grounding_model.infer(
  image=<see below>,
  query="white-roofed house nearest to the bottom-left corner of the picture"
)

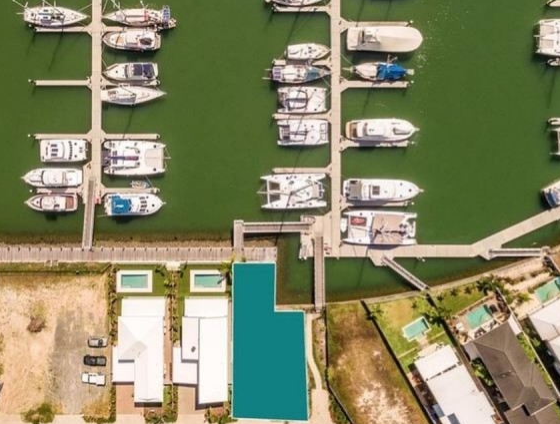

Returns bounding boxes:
[112,297,166,404]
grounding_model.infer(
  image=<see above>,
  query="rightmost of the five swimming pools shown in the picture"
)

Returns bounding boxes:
[534,277,560,302]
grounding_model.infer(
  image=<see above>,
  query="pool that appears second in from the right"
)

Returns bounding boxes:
[463,302,495,331]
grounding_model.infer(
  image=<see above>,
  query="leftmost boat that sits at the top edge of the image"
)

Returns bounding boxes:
[9,0,91,27]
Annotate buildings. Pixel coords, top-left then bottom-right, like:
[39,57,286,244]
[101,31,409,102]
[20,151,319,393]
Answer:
[173,296,229,405]
[526,294,560,369]
[112,297,166,404]
[463,315,560,424]
[414,343,501,424]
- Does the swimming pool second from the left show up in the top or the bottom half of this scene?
bottom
